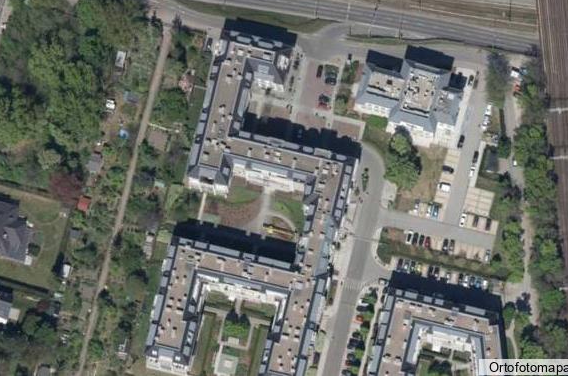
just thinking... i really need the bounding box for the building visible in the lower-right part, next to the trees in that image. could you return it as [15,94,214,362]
[370,293,514,376]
